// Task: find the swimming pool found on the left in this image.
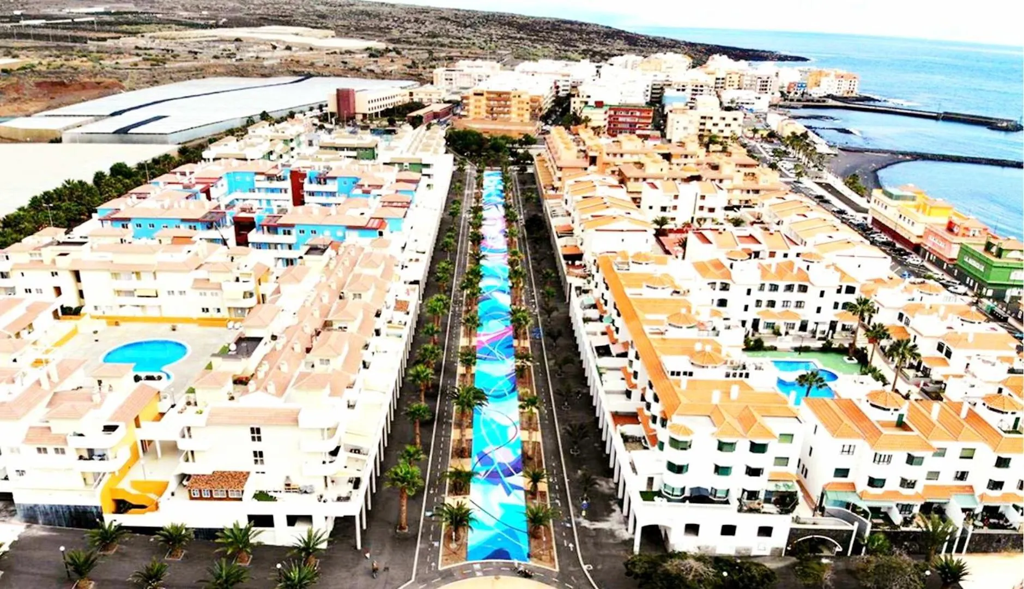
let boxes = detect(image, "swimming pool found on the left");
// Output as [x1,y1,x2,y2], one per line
[100,337,195,382]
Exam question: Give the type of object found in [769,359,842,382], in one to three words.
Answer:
swimming pool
